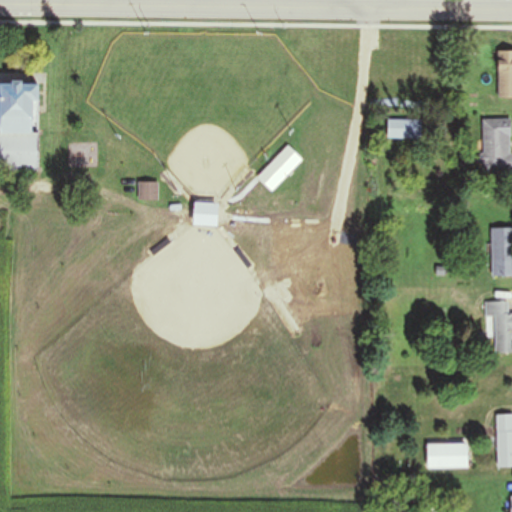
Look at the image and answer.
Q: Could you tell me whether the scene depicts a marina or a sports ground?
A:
sports ground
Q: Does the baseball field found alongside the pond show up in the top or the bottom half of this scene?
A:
bottom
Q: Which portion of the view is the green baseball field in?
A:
top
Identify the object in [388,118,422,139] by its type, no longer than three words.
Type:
shed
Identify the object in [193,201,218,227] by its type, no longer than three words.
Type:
building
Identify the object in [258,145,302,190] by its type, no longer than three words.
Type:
building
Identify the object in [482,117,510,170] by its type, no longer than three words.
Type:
house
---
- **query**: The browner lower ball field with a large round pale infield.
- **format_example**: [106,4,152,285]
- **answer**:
[37,224,330,480]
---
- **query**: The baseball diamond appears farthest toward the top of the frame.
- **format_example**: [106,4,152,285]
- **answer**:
[89,34,351,227]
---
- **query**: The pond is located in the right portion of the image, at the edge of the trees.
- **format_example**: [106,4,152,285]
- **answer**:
[306,434,359,486]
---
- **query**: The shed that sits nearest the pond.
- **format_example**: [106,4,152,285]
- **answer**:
[427,442,470,470]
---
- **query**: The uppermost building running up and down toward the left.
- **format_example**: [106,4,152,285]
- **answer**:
[0,80,40,169]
